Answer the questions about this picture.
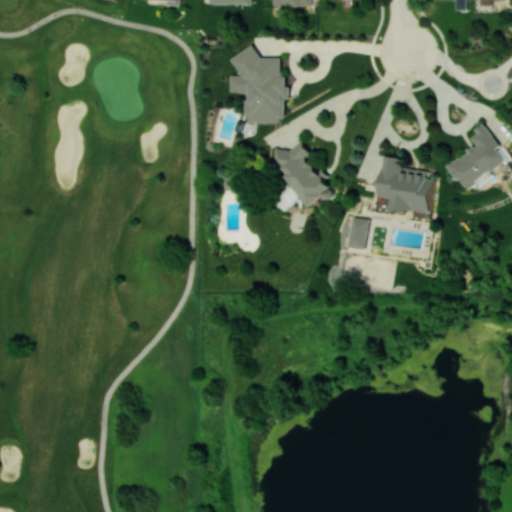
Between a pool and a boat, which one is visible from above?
pool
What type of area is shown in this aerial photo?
golf course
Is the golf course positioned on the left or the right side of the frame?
left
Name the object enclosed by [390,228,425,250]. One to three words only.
swimming pool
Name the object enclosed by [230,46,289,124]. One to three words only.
house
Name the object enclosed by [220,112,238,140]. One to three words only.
swimming pool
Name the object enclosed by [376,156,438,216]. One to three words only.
house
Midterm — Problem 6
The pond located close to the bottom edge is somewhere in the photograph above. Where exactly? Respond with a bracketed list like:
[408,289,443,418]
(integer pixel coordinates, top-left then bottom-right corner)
[260,349,500,512]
